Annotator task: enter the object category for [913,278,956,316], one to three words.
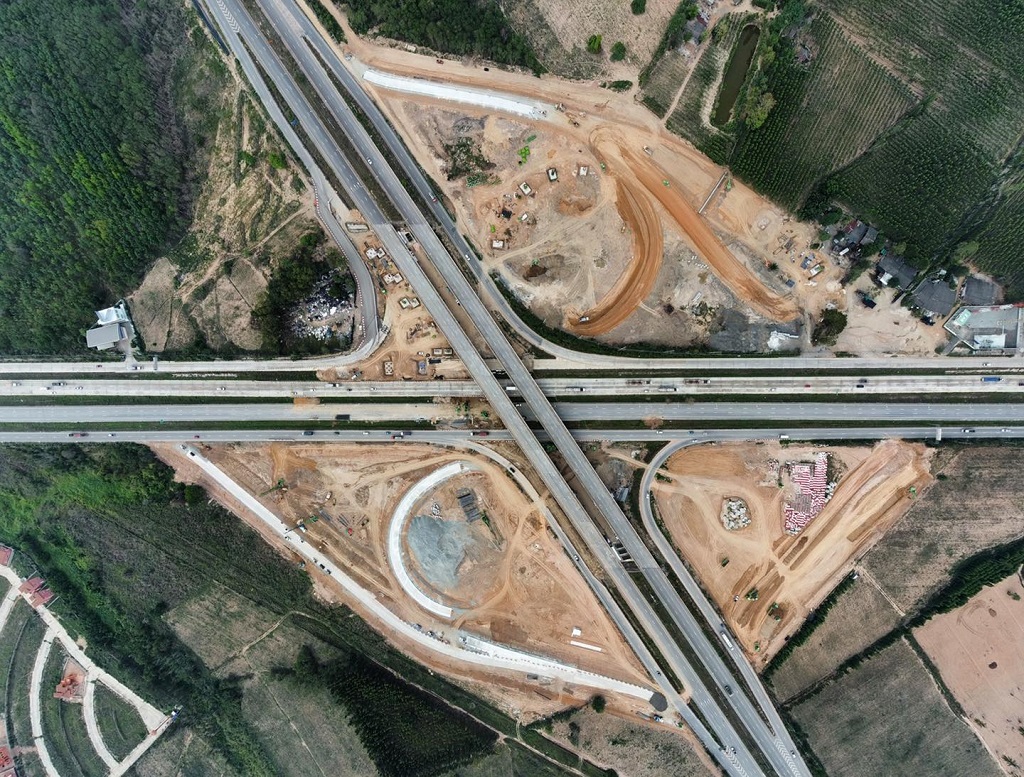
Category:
house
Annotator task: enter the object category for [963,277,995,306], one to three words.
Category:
house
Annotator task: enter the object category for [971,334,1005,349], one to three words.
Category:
building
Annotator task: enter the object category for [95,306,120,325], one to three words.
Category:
building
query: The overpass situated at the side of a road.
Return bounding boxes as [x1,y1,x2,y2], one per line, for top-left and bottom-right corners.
[365,216,620,573]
